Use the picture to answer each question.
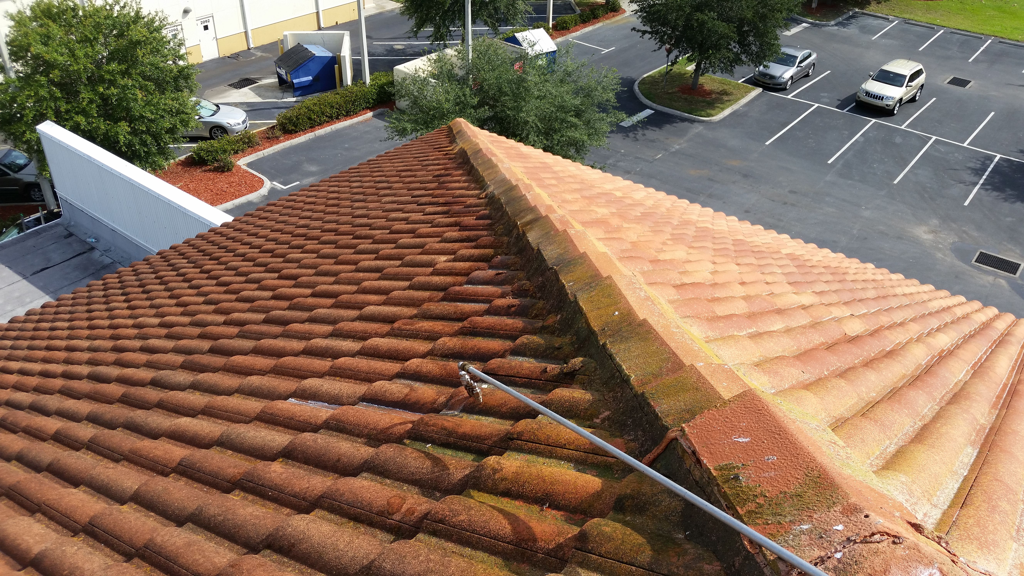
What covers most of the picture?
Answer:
buildings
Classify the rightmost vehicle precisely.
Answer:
automobile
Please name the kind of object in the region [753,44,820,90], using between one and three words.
car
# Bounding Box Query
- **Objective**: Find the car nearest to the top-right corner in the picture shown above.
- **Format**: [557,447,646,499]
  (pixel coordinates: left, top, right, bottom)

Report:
[856,53,926,115]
